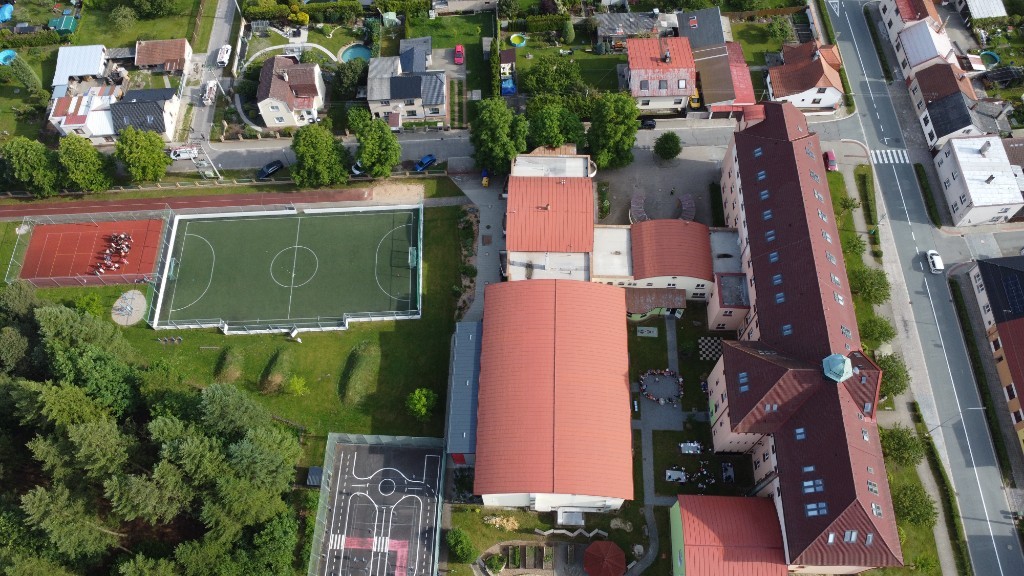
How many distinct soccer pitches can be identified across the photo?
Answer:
one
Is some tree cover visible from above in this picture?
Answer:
Yes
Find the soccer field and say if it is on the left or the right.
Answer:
left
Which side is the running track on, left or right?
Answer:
left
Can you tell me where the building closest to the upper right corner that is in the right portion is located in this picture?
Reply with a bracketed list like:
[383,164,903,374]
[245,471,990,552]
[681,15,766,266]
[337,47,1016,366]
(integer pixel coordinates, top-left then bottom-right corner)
[950,0,1007,35]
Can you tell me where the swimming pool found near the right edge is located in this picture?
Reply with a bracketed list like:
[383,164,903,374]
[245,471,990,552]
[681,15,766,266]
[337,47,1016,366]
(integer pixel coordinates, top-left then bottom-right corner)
[982,51,1000,69]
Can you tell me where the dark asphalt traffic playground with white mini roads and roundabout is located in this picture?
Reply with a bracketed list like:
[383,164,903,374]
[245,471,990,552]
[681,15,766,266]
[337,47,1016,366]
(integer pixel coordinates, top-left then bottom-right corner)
[318,443,442,576]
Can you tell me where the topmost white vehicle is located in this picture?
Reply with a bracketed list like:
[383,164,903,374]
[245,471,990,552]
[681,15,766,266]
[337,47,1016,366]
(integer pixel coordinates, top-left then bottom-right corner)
[216,41,232,68]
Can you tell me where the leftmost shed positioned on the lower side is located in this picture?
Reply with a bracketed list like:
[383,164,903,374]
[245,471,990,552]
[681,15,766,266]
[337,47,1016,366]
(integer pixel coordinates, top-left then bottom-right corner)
[307,467,326,488]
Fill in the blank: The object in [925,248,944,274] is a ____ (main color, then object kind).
white car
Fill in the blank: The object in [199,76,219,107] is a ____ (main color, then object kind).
white vehicle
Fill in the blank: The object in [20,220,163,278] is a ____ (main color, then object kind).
red sports court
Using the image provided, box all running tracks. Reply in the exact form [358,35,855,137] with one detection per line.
[0,188,372,218]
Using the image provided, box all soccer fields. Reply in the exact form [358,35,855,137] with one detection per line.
[155,206,423,336]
